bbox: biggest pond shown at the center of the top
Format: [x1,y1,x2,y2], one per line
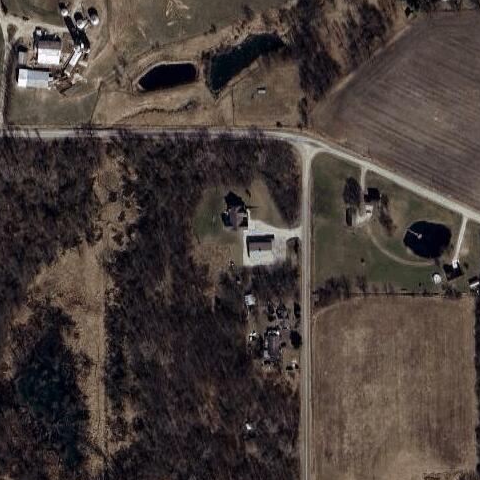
[210,33,285,94]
